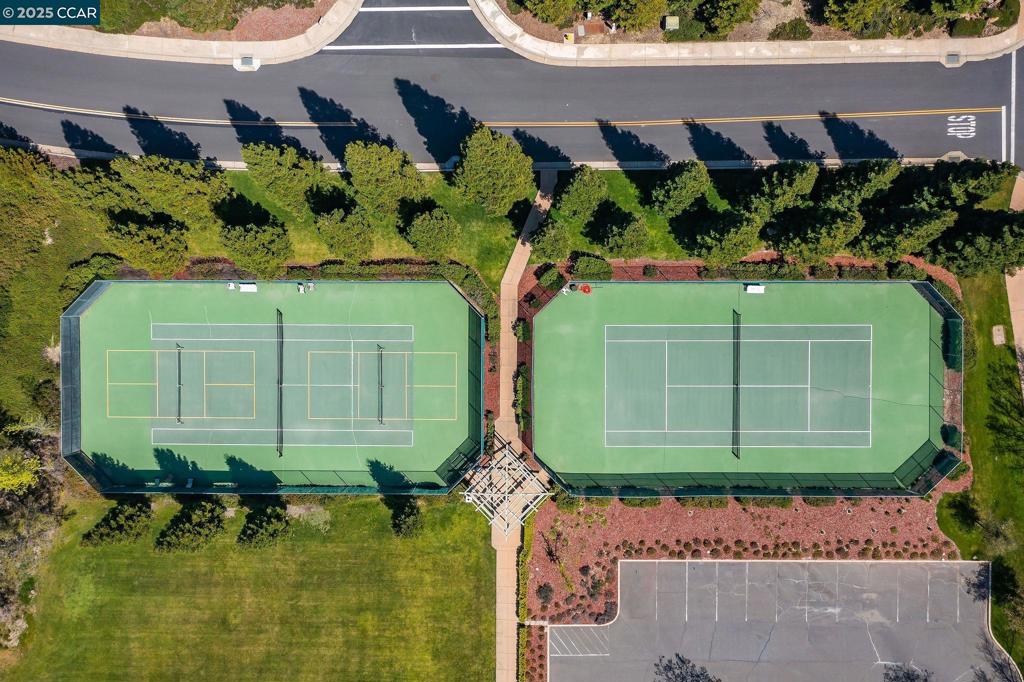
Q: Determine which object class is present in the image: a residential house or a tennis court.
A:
tennis court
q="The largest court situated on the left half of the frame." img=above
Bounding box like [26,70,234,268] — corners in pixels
[80,283,484,488]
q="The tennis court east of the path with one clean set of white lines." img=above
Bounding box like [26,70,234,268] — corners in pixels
[534,284,943,489]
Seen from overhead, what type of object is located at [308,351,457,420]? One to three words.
sports court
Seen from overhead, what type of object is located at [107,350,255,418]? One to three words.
sports court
